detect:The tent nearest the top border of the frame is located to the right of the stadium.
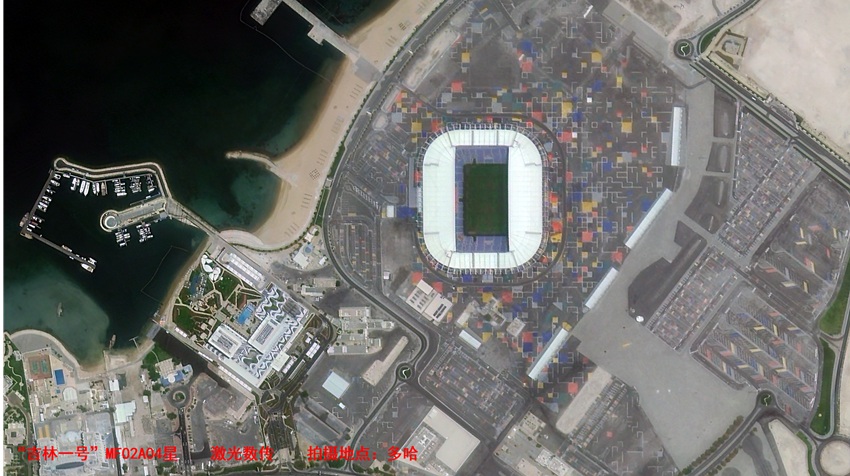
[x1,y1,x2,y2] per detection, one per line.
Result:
[672,107,685,166]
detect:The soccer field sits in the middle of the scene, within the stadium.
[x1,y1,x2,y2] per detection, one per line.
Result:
[463,160,509,239]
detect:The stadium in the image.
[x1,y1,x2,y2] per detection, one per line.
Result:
[417,121,553,276]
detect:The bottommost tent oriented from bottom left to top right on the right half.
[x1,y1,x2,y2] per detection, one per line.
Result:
[529,328,569,380]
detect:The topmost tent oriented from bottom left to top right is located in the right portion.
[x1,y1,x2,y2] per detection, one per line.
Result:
[625,188,672,248]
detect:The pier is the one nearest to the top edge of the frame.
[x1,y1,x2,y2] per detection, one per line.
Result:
[251,0,362,60]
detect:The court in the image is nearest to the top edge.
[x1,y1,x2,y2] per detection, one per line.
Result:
[29,355,51,380]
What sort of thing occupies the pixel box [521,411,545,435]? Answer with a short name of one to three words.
building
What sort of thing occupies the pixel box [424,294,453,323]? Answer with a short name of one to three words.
building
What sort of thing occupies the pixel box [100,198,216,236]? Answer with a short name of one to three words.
pier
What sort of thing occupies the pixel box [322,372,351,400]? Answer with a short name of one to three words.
shed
